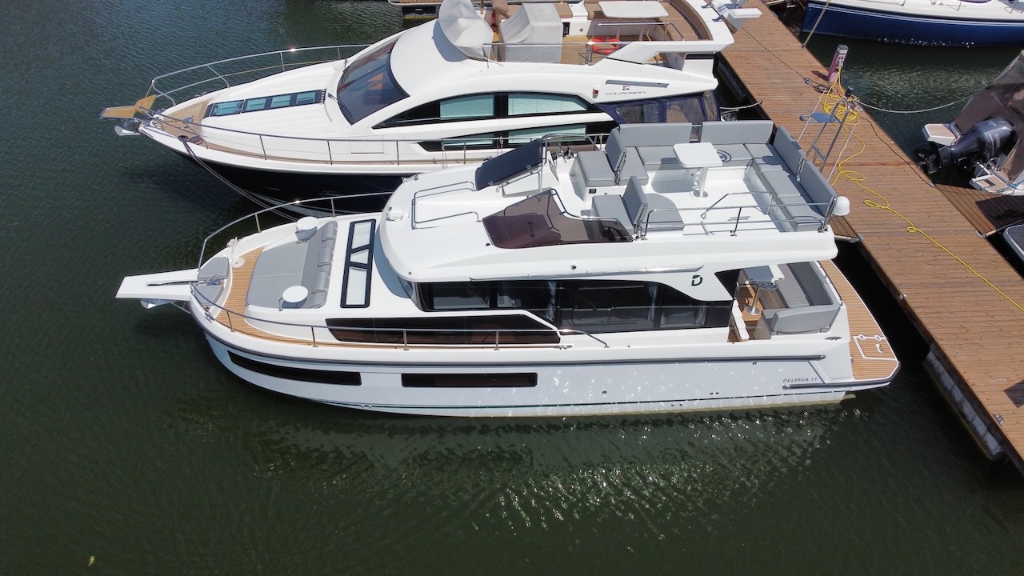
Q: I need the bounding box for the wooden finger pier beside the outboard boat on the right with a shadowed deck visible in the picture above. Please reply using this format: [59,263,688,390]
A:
[929,184,1024,242]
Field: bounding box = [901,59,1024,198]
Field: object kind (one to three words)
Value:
boat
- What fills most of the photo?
water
